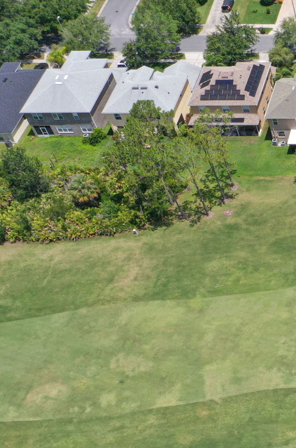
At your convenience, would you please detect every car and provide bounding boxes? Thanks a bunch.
[32,58,50,70]
[114,58,126,72]
[221,0,233,11]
